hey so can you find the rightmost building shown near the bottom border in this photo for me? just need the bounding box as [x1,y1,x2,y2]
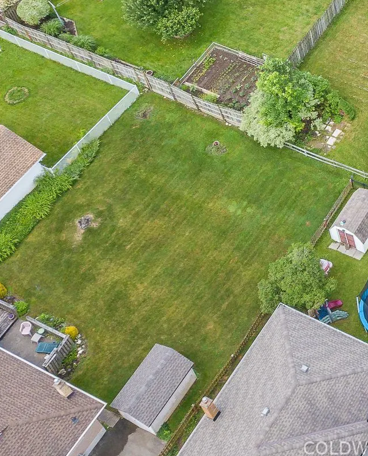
[171,304,368,456]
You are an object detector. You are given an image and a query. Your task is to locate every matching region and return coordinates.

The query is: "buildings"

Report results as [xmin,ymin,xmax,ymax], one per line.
[0,124,49,220]
[171,304,368,456]
[0,346,109,456]
[330,187,368,254]
[110,345,205,442]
